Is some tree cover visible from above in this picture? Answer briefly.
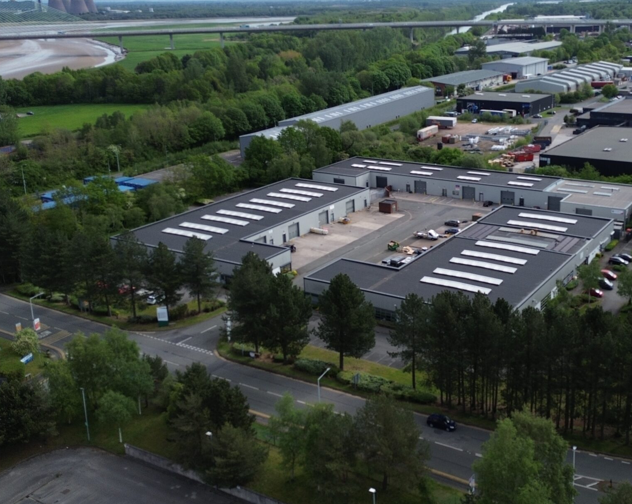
Yes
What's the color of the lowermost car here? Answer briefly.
black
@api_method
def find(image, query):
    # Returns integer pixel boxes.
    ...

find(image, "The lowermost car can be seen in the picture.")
[424,412,459,432]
